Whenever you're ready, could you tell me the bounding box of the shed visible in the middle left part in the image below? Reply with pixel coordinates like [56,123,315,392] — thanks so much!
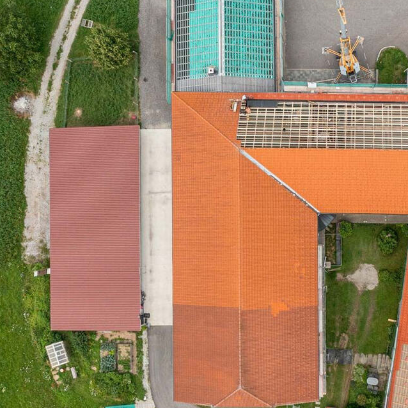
[26,125,144,332]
